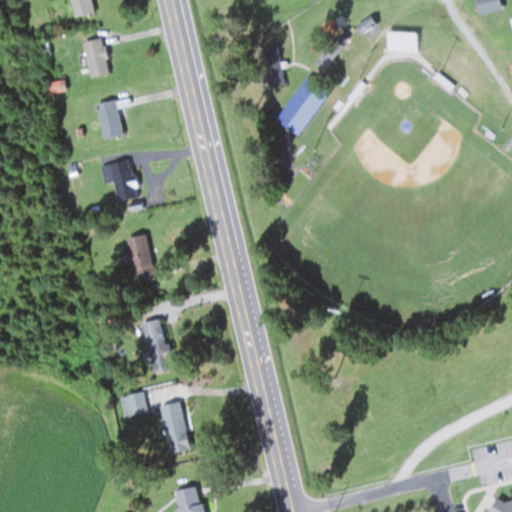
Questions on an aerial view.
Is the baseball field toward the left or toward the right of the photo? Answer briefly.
right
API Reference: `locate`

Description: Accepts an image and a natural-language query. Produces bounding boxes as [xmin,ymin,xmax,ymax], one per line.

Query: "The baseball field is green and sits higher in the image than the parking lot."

[280,60,512,327]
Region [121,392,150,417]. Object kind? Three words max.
building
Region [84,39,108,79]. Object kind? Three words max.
house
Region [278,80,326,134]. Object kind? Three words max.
building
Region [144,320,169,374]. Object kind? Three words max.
house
